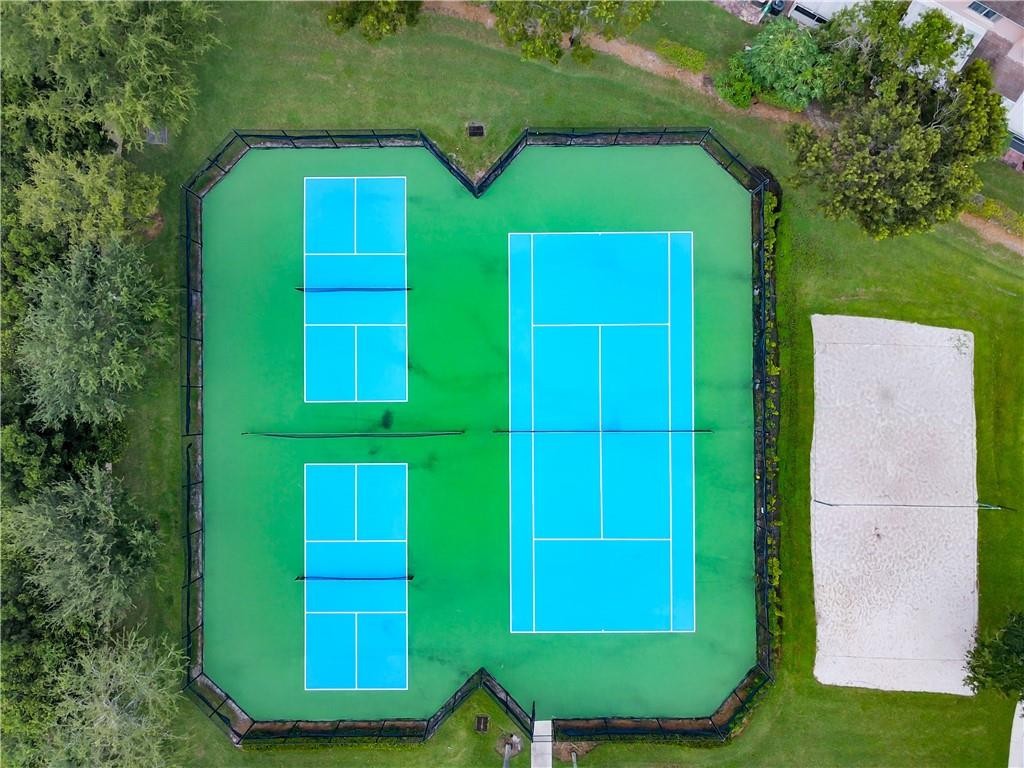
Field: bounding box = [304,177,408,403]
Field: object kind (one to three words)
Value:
sports court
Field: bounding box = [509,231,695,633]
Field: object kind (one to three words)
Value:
tennis court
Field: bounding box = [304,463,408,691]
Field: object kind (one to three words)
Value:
sports court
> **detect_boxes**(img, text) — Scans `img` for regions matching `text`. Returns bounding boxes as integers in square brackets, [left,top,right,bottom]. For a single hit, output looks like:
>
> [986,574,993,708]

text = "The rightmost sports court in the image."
[810,314,979,695]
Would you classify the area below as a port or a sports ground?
sports ground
